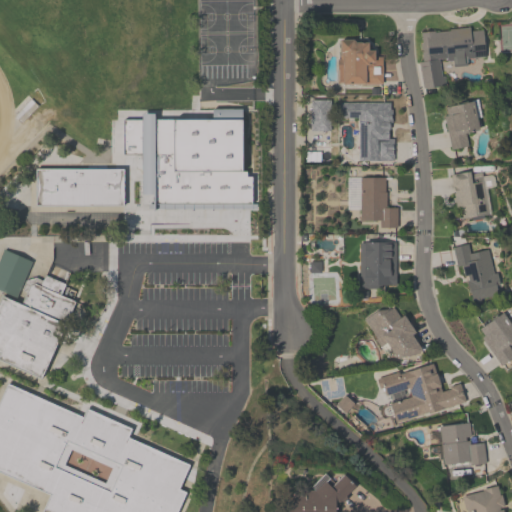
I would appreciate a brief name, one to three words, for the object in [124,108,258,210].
building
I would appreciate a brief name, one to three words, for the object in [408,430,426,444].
swimming pool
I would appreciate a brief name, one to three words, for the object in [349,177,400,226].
house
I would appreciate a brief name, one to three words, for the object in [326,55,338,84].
swimming pool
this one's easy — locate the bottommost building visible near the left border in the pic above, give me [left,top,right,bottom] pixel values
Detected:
[0,383,192,512]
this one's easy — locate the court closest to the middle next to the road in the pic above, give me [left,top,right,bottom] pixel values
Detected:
[310,272,341,309]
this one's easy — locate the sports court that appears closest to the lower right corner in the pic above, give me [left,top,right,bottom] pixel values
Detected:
[320,376,347,402]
